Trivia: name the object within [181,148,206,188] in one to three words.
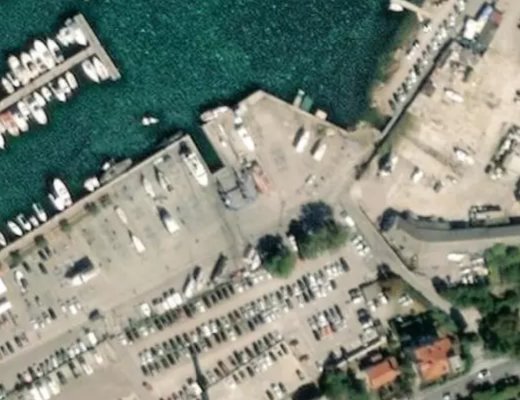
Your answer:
boat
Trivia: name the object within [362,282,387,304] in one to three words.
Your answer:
shed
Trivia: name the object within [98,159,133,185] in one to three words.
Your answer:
ship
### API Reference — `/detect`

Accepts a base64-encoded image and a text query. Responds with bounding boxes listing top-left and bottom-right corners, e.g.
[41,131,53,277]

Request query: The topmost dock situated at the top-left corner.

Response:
[0,14,120,111]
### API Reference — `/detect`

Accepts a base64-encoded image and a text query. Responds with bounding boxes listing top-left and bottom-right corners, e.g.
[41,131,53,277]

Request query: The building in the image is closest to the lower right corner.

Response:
[414,341,460,380]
